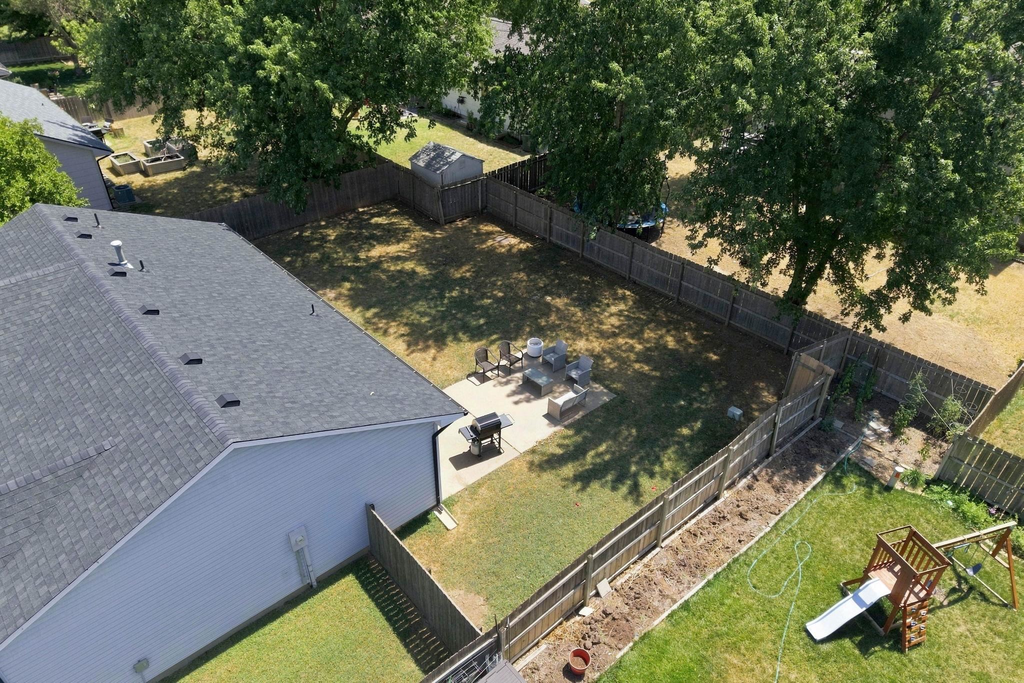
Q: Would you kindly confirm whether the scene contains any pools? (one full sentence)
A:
No, the scene contains no pool.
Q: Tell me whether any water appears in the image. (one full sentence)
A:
No, no water is visible.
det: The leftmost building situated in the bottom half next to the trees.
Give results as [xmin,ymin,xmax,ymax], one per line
[0,205,470,683]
